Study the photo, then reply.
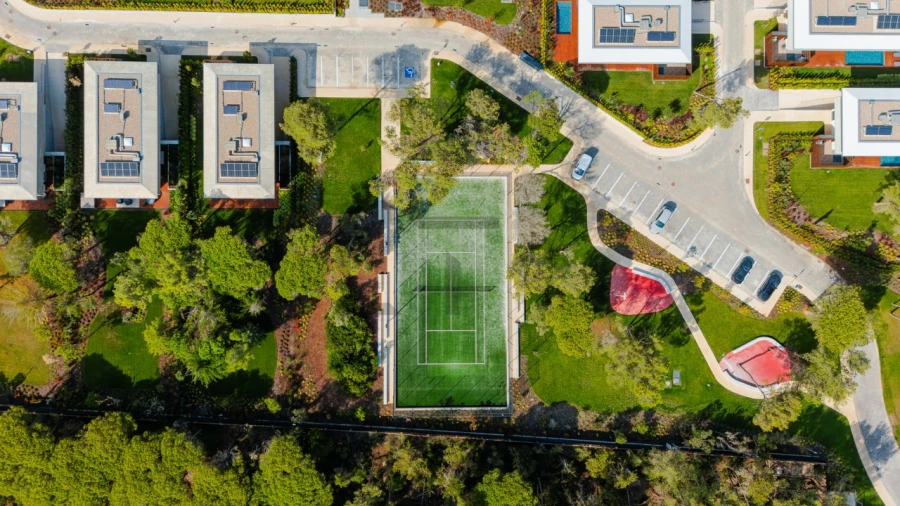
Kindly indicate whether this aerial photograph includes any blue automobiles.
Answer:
Yes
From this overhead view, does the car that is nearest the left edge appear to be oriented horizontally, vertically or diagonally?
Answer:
diagonally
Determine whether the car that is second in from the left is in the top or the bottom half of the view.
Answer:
top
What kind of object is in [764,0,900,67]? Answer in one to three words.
house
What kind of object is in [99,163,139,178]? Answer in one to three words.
solar panel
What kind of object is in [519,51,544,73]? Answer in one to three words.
car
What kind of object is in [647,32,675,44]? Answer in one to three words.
solar panel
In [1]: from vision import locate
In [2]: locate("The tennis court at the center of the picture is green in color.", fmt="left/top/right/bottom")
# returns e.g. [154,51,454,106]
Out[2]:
[395,176,508,409]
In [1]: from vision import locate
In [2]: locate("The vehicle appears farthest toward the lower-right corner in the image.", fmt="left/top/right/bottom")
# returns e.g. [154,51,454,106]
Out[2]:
[758,271,780,300]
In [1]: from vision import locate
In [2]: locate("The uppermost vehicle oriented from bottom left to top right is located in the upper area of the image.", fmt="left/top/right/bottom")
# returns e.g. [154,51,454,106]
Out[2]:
[572,151,594,179]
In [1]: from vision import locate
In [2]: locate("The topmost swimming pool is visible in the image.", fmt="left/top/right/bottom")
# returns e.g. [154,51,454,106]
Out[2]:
[555,1,572,34]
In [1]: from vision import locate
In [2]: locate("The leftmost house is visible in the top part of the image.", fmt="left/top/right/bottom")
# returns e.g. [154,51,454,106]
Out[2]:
[0,83,74,210]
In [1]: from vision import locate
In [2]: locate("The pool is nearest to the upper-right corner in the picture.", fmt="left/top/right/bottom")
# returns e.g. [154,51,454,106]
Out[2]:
[845,52,885,66]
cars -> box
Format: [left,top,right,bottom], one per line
[758,271,780,300]
[572,151,594,179]
[651,204,674,232]
[730,257,753,284]
[519,51,544,73]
